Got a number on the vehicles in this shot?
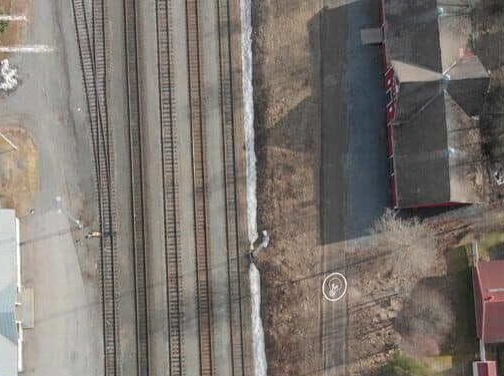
none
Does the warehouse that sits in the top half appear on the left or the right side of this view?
right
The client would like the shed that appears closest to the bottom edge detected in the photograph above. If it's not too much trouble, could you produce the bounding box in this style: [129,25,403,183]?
[471,361,497,376]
